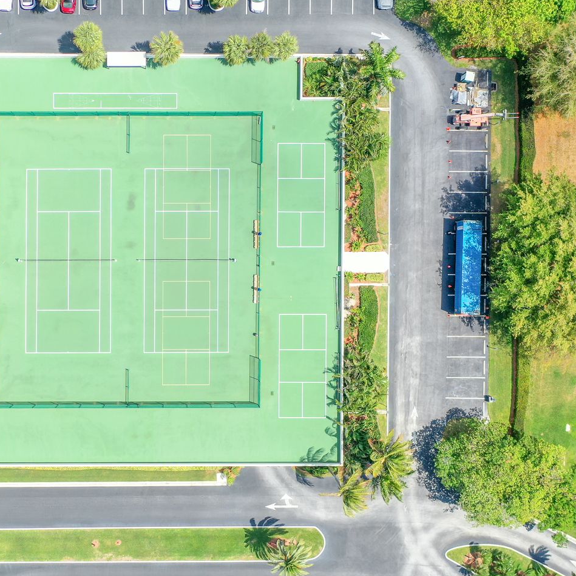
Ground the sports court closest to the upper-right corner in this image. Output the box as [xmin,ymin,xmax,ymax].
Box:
[278,142,326,247]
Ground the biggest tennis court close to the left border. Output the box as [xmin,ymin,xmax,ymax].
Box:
[16,168,118,353]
